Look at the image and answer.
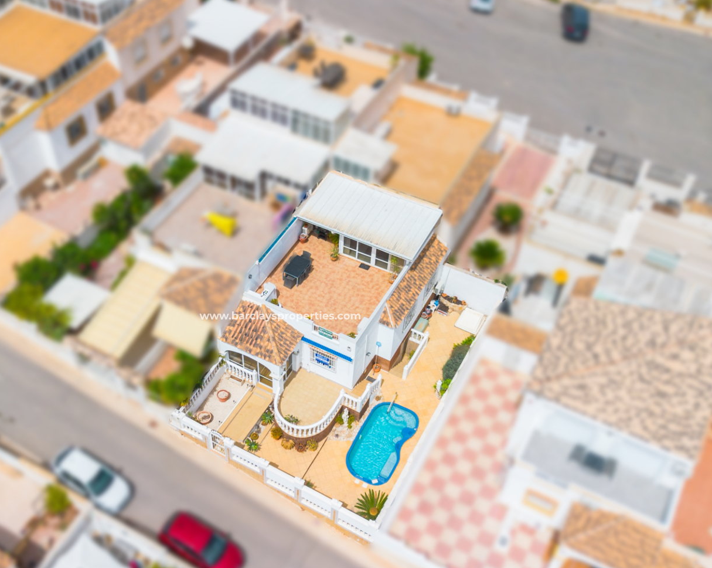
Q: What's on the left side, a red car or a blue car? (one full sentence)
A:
You can see a red car on the left side.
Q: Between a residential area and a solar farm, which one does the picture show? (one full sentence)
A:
This image shows a residential area.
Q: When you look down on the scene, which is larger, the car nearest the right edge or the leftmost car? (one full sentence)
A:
Of the two, the leftmost car is larger and the car nearest the right edge is the smaller one.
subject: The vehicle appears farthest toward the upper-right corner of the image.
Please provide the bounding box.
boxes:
[563,8,590,41]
